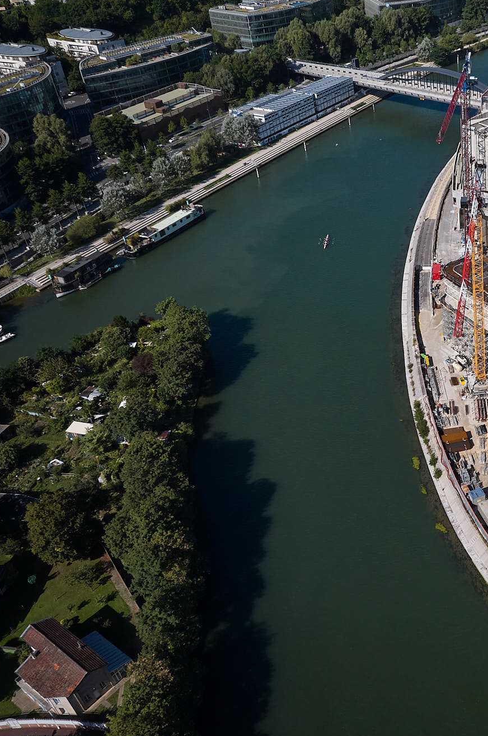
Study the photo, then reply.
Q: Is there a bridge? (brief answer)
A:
Yes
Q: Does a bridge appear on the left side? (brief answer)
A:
No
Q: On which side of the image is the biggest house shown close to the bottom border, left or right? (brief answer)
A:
left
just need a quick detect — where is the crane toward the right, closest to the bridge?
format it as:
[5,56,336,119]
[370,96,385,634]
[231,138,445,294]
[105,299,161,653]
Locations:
[434,55,476,254]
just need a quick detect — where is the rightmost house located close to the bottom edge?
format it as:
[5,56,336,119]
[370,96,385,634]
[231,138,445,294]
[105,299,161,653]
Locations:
[13,618,130,717]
